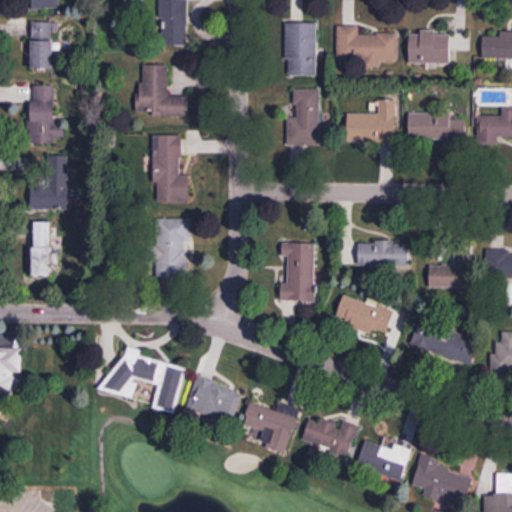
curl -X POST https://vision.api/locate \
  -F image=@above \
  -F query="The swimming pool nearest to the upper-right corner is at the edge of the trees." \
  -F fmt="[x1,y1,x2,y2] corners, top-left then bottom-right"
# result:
[473,88,512,108]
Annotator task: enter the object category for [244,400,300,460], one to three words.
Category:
house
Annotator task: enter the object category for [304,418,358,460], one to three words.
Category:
house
